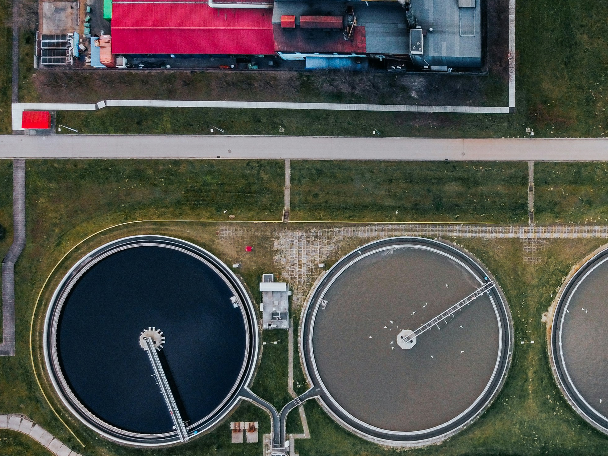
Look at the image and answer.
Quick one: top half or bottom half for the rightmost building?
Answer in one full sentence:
It is in the top half that the rightmost building appears.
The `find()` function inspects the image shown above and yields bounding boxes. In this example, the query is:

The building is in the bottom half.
[260,275,294,329]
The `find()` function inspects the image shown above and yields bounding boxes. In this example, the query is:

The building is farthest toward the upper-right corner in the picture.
[407,0,483,71]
